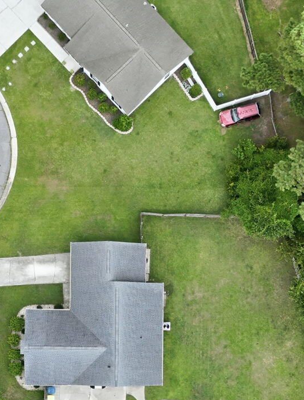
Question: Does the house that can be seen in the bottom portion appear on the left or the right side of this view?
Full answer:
The house that can be seen in the bottom portion sits on the left side.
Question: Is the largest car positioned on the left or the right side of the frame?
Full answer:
It is on the right.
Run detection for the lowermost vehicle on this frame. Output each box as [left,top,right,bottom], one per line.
[218,102,261,128]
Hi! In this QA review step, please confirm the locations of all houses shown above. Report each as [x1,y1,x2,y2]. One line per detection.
[34,0,193,118]
[21,240,165,389]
